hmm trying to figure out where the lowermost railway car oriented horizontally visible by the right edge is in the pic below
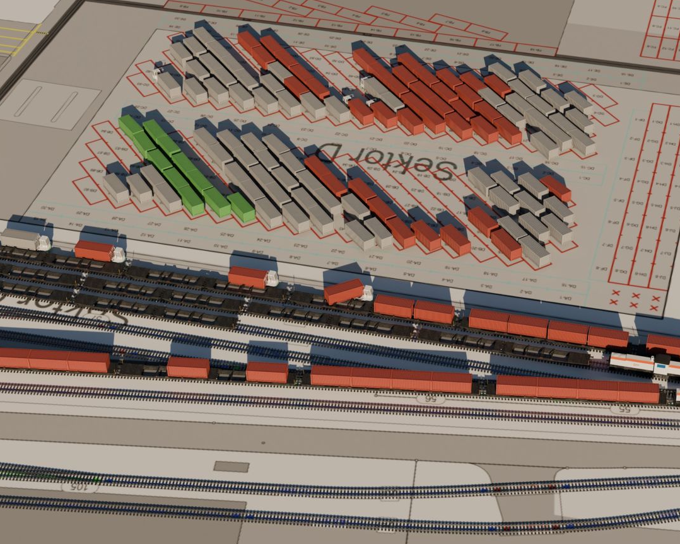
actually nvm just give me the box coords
[481,381,667,404]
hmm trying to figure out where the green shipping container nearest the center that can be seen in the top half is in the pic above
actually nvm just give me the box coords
[228,192,257,224]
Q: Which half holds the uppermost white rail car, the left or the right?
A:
right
